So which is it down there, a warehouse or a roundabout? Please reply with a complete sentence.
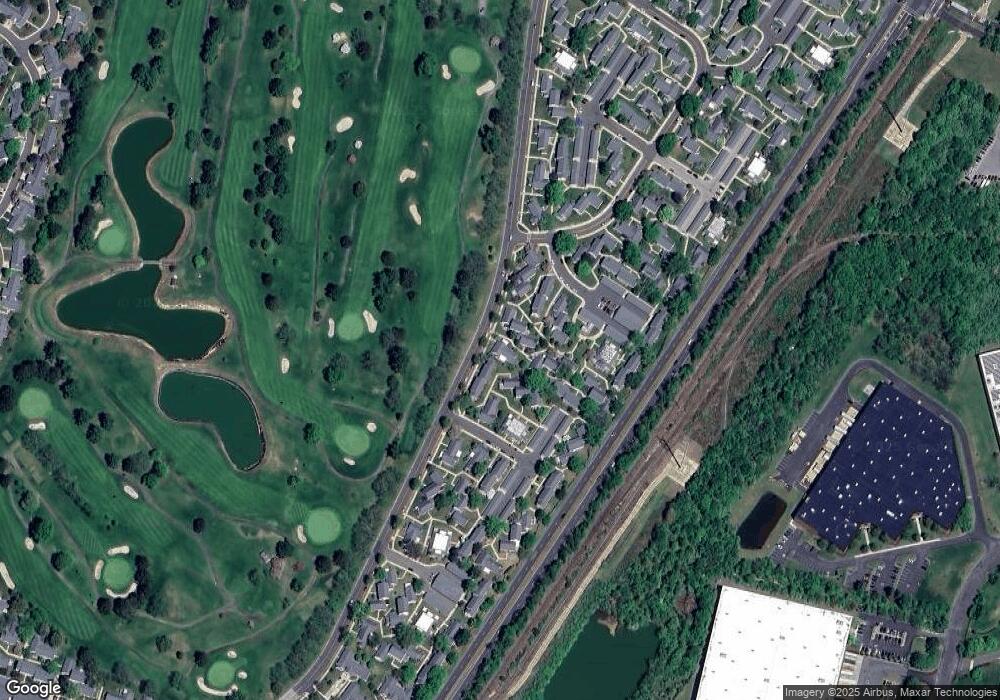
Of the two, only a warehouse appears.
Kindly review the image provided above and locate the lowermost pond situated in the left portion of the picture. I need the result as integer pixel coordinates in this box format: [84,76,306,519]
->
[160,372,264,468]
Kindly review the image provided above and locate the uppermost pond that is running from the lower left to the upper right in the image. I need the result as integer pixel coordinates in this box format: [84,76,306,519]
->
[737,492,788,549]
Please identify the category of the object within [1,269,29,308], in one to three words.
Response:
house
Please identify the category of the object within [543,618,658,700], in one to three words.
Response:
pond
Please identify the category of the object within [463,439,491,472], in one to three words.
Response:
house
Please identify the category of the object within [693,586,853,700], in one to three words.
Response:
warehouse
